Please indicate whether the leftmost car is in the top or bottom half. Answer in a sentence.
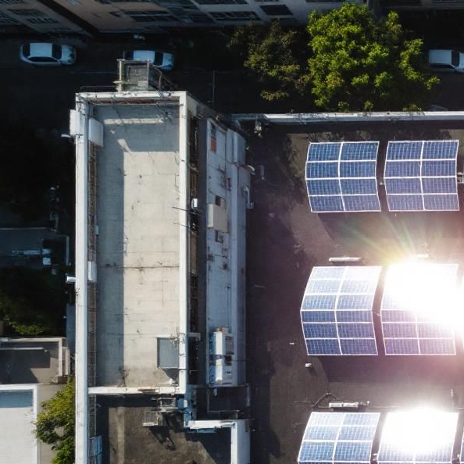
The top half of the photo is where the leftmost car is.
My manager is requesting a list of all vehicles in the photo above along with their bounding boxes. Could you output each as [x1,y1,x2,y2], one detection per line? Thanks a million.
[424,48,464,75]
[121,45,179,74]
[22,40,79,68]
